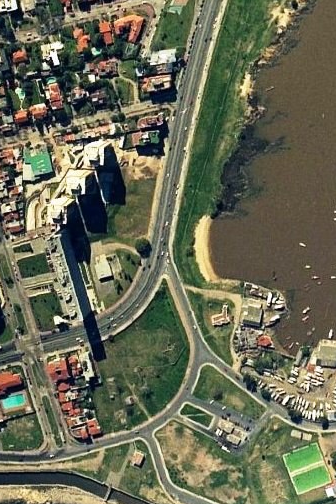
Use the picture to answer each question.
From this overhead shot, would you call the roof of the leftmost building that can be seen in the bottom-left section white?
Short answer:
No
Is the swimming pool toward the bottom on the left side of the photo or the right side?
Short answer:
left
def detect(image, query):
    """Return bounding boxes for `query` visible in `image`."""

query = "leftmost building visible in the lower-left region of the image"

[0,368,23,395]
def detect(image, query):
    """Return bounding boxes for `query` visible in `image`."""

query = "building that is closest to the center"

[95,253,113,278]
